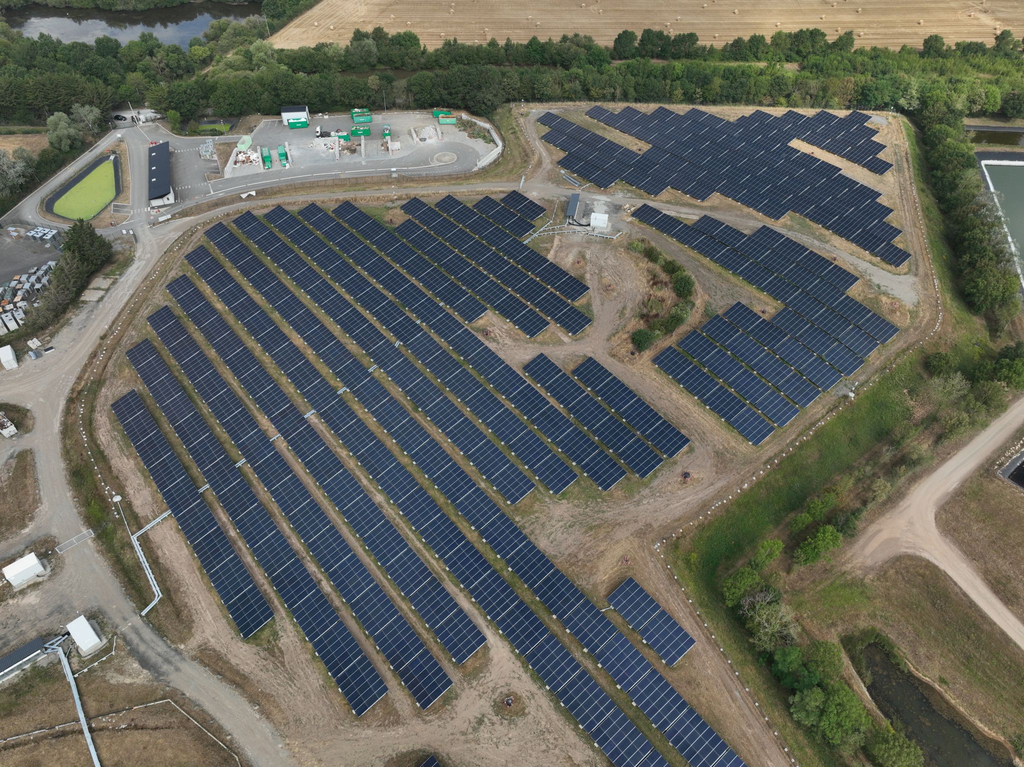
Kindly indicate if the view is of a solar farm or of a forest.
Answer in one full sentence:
The area seen from above is a solar farm.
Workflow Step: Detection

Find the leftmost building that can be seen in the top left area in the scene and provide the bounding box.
[142,138,178,207]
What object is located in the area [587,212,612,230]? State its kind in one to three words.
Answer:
building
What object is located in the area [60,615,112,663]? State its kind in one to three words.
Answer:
building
